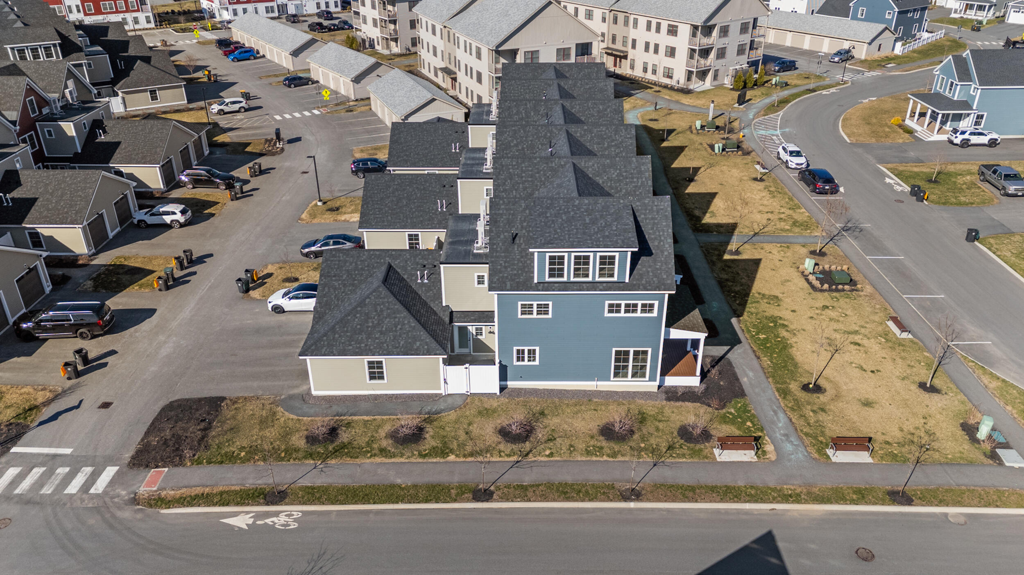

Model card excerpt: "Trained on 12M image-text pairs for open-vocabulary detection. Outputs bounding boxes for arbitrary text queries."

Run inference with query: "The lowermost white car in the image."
[261,279,320,314]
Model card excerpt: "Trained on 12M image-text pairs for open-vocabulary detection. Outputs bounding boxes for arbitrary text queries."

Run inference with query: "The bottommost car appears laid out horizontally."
[7,298,121,343]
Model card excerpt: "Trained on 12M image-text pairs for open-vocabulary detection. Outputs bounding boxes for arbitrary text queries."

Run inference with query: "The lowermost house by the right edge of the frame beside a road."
[906,47,1024,140]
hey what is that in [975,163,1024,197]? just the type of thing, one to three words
truck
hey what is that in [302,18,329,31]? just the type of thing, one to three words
vehicle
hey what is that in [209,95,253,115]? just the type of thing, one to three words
car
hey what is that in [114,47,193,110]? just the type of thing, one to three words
building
